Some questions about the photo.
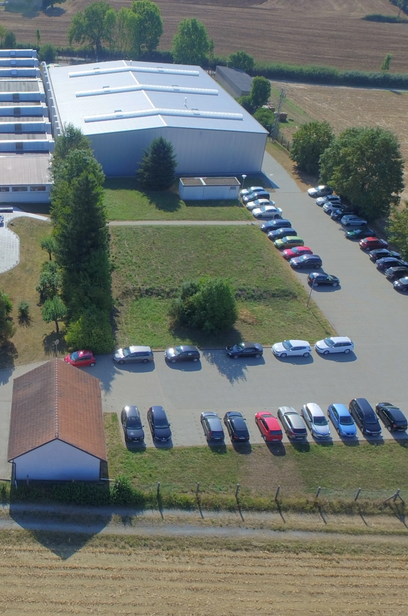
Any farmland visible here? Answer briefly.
Yes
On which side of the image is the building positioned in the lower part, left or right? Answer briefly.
left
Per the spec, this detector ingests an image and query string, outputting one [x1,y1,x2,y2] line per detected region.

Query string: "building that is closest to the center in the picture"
[179,176,242,200]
